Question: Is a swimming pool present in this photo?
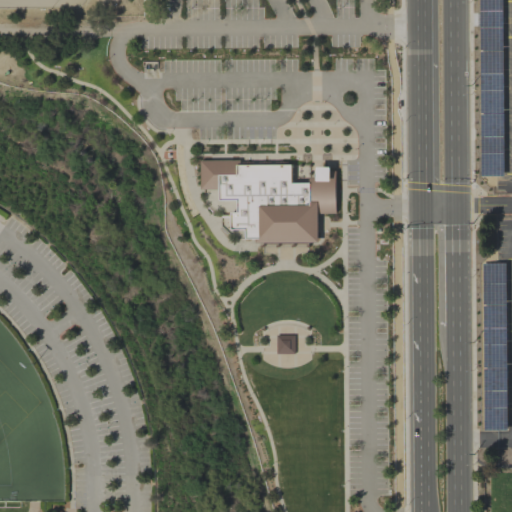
No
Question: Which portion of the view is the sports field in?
bottom left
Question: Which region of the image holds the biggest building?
center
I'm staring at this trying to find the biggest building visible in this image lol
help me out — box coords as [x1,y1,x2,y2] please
[200,158,336,245]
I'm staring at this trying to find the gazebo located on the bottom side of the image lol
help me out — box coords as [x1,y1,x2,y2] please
[277,333,298,354]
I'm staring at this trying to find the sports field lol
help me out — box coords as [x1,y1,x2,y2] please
[0,322,64,500]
